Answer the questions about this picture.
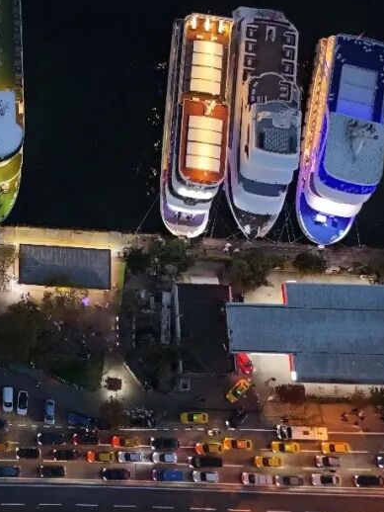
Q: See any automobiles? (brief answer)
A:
Yes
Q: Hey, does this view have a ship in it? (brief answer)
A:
Yes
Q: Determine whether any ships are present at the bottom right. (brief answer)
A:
No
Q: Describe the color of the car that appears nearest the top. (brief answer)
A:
red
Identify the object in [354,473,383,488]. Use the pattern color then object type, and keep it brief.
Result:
black car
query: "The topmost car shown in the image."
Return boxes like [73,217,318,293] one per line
[235,352,255,376]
